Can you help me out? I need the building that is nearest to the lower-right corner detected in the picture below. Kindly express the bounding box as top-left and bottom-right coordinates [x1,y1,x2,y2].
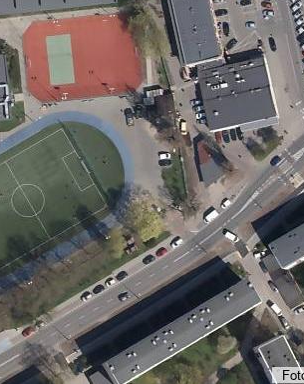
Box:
[257,335,304,384]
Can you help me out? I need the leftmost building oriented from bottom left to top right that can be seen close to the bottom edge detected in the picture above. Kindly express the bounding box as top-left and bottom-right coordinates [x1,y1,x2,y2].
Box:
[101,278,262,384]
